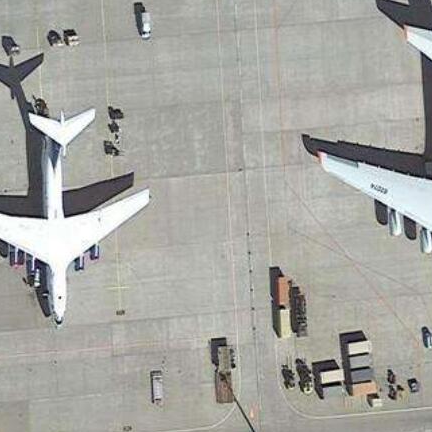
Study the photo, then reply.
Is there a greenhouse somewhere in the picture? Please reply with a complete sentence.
No, the picture doesn't show any greenhouse.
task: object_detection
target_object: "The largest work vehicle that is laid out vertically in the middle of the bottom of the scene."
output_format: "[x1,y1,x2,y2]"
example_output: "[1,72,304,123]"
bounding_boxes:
[214,347,235,402]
